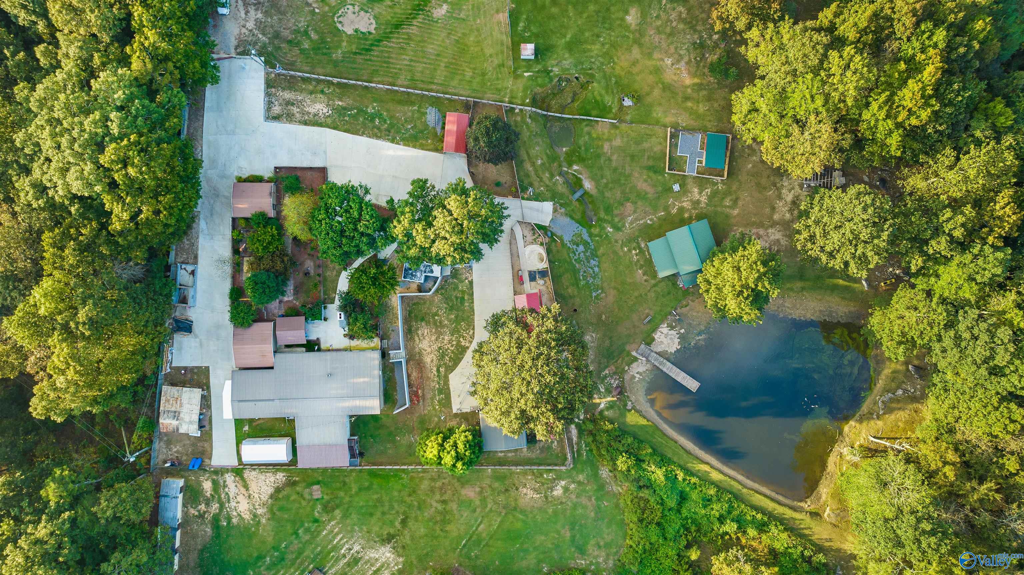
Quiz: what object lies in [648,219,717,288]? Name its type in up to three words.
building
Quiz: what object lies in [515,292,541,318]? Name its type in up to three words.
shed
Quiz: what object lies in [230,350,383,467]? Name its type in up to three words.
house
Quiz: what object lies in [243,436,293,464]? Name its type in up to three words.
shed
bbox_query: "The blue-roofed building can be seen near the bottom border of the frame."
[153,477,184,565]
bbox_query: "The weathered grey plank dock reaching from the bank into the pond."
[636,344,700,392]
